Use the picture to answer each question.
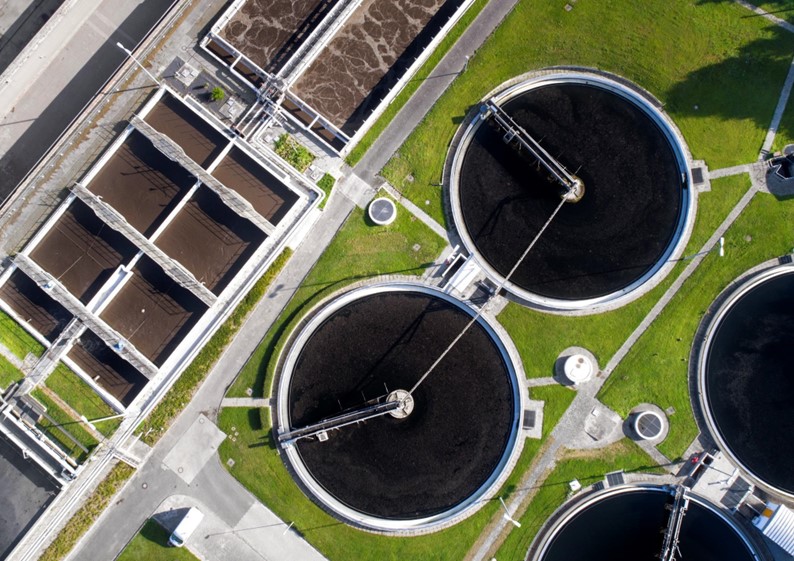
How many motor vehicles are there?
1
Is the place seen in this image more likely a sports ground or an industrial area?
industrial area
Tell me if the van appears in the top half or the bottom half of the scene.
bottom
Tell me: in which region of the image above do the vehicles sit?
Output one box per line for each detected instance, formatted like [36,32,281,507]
[169,504,206,549]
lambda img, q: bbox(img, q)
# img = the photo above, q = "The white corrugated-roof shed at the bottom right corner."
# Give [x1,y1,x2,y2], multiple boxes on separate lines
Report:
[756,502,794,553]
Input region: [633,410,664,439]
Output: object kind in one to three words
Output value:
storage tank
